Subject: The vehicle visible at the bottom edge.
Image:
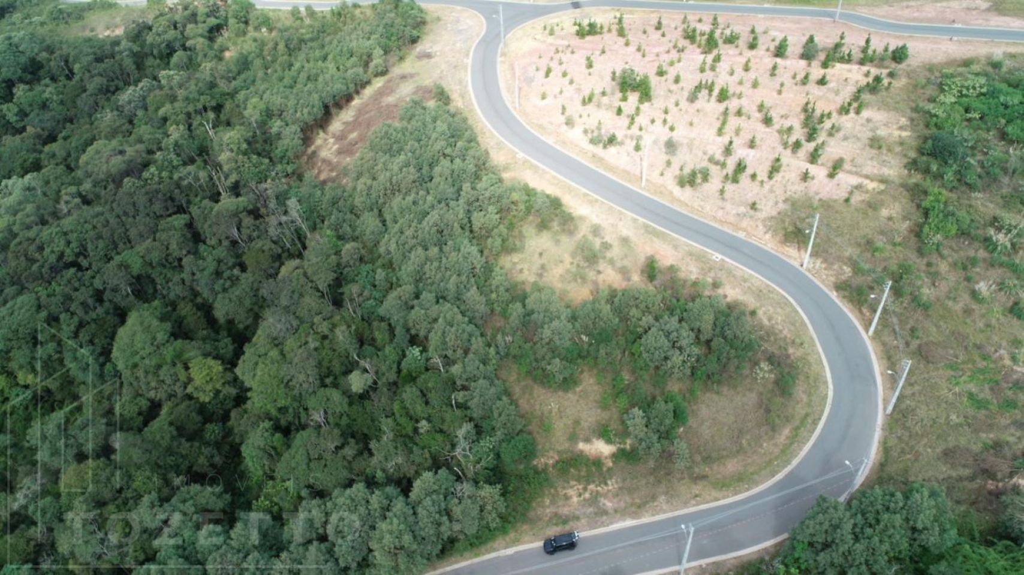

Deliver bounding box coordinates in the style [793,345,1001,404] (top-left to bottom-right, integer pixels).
[542,529,581,557]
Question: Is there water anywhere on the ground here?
No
